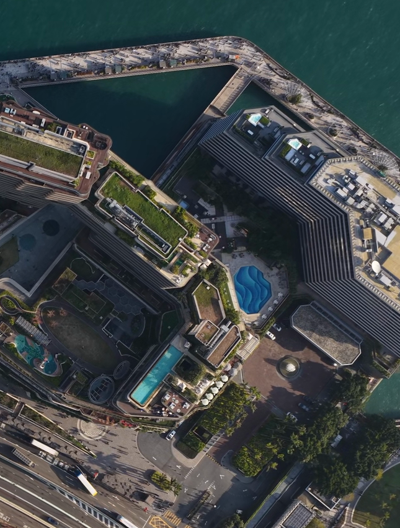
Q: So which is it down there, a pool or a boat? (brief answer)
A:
pool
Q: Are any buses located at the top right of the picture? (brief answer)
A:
No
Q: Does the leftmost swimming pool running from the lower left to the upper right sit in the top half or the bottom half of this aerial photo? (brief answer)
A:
bottom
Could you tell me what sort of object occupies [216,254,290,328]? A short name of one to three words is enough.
swimming pool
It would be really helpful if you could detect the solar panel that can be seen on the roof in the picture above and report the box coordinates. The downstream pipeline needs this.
[283,504,310,528]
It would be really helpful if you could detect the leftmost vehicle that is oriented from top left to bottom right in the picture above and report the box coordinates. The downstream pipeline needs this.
[8,446,37,469]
